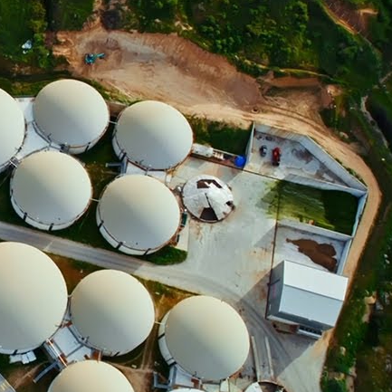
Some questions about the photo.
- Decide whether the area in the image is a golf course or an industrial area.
industrial area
